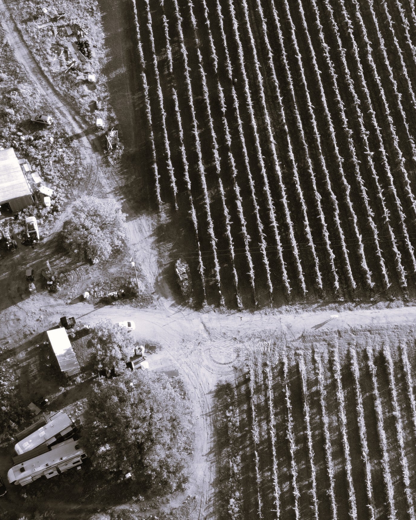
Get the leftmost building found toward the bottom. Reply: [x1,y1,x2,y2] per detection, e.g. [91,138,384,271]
[47,327,86,385]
